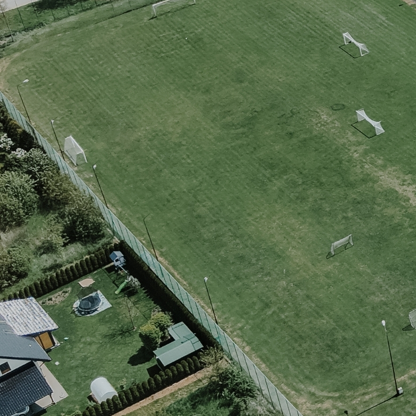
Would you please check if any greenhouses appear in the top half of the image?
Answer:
No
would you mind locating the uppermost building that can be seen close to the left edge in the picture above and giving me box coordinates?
[0,298,60,383]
